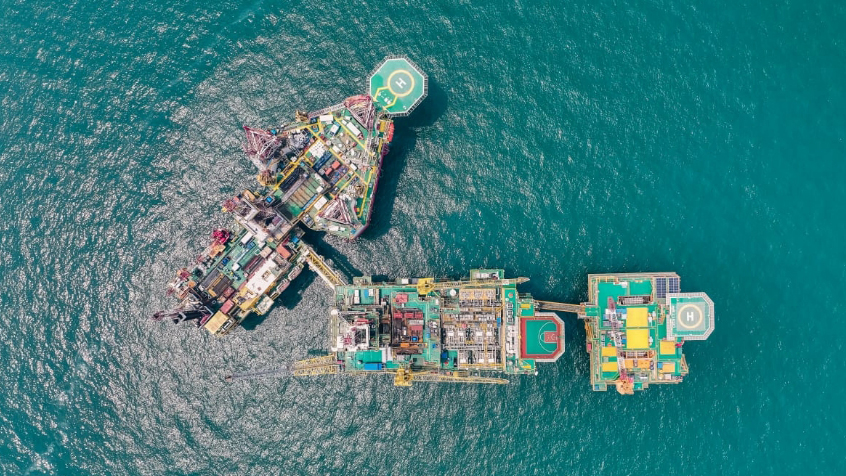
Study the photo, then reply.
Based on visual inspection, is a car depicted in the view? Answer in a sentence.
No, I can see no car in this picture.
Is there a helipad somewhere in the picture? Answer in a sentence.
Yes, a helipad appears in the view.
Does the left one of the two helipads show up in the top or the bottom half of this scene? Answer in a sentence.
The left one of the two helipads sits in the top half of the picture.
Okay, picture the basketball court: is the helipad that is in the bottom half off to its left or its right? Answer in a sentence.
The helipad that is in the bottom half can be seen on the right of the basketball court.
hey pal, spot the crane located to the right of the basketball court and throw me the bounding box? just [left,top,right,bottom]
[606,295,630,395]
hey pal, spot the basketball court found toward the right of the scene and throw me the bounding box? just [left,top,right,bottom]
[519,312,565,363]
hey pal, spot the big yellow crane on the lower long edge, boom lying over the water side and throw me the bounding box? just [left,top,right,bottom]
[392,369,508,387]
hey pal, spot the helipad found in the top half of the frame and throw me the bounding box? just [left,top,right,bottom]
[368,56,427,116]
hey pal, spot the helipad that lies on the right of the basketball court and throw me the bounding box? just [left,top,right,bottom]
[667,293,715,340]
